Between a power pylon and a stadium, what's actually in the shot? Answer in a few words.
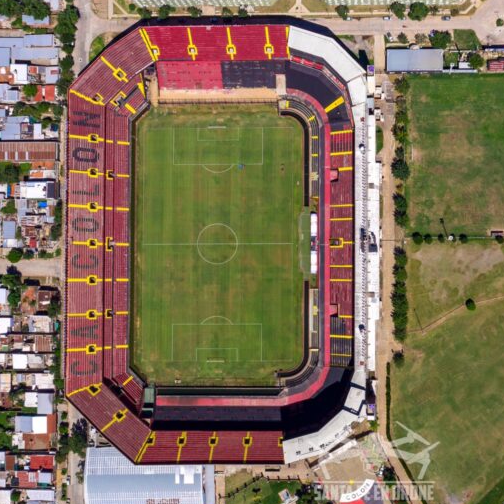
stadium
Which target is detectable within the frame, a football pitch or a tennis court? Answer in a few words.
football pitch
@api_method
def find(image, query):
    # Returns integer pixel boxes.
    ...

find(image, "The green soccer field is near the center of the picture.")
[135,104,311,386]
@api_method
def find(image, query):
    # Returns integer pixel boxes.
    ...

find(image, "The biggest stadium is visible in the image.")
[63,24,368,465]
